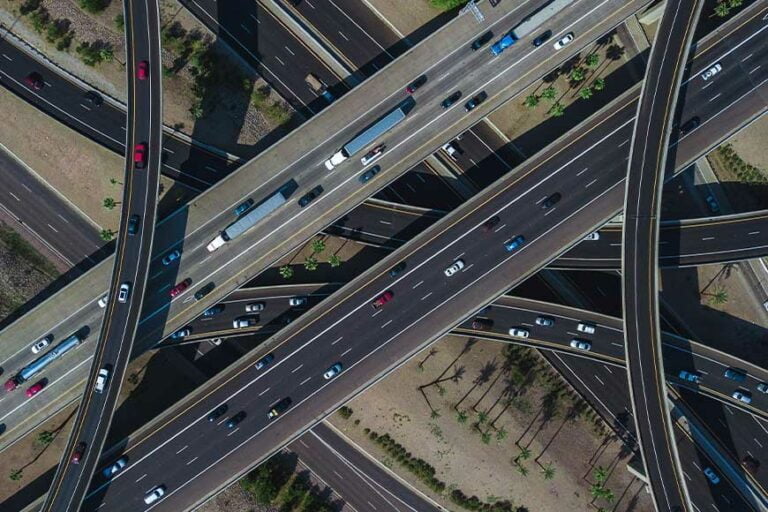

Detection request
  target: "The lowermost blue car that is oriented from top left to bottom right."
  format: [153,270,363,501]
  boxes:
[704,466,719,484]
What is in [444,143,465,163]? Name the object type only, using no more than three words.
vehicle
